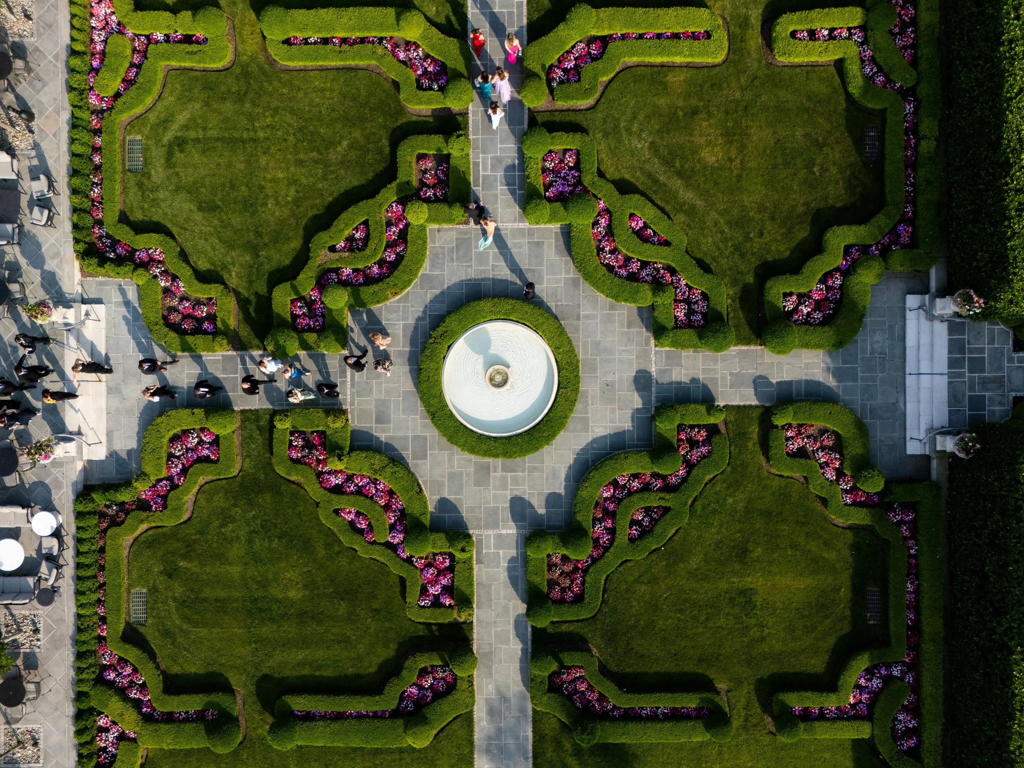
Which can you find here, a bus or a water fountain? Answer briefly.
water fountain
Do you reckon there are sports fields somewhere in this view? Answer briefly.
No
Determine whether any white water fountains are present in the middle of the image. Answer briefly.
Yes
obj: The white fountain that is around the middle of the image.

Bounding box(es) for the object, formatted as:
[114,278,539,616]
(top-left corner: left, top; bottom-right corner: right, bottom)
[442,320,558,436]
